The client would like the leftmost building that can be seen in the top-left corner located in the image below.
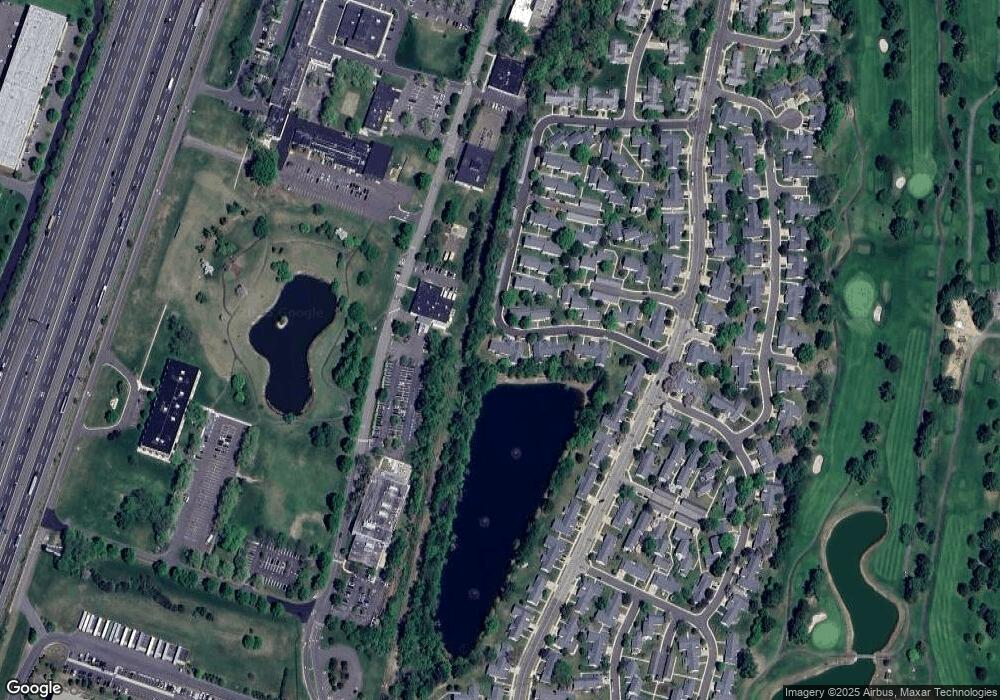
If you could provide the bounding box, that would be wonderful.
[0,5,68,170]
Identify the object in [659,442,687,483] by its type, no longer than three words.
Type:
house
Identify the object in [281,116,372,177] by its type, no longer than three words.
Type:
building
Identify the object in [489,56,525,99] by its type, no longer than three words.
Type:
building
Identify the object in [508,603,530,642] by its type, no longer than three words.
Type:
house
